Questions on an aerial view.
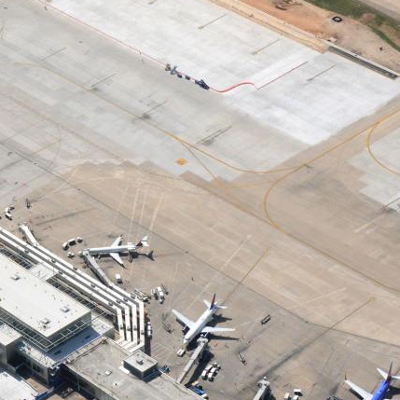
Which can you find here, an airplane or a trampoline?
airplane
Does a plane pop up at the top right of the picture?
No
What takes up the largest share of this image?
paved ground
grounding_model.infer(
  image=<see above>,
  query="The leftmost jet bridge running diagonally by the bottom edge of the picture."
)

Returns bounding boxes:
[175,341,205,385]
